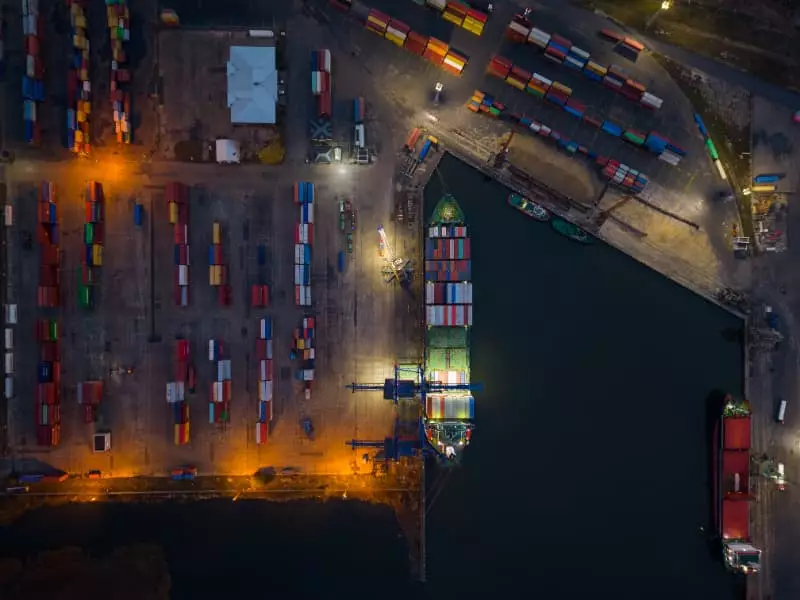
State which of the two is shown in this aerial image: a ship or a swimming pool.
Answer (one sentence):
I can see a ship in this picture.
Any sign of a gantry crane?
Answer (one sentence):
Yes, looking at the shot, I can spot a gantry crane.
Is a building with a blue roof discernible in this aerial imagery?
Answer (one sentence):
Yes, there's a building with a blue roof down there.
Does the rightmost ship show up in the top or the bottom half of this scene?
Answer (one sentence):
Seen from above, the rightmost ship lies in the bottom half of the view.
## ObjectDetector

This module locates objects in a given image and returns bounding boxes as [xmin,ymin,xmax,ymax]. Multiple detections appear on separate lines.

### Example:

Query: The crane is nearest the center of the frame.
[377,226,413,284]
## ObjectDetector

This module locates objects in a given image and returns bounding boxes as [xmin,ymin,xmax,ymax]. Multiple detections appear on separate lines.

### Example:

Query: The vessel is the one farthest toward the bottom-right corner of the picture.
[712,391,762,576]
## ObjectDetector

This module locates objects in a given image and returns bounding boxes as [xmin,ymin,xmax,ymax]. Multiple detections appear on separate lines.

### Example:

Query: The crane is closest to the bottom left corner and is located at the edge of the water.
[344,404,426,473]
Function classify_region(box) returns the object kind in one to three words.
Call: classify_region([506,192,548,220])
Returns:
boat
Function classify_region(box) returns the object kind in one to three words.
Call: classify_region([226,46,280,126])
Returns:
building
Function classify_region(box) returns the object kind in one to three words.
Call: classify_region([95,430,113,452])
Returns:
building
